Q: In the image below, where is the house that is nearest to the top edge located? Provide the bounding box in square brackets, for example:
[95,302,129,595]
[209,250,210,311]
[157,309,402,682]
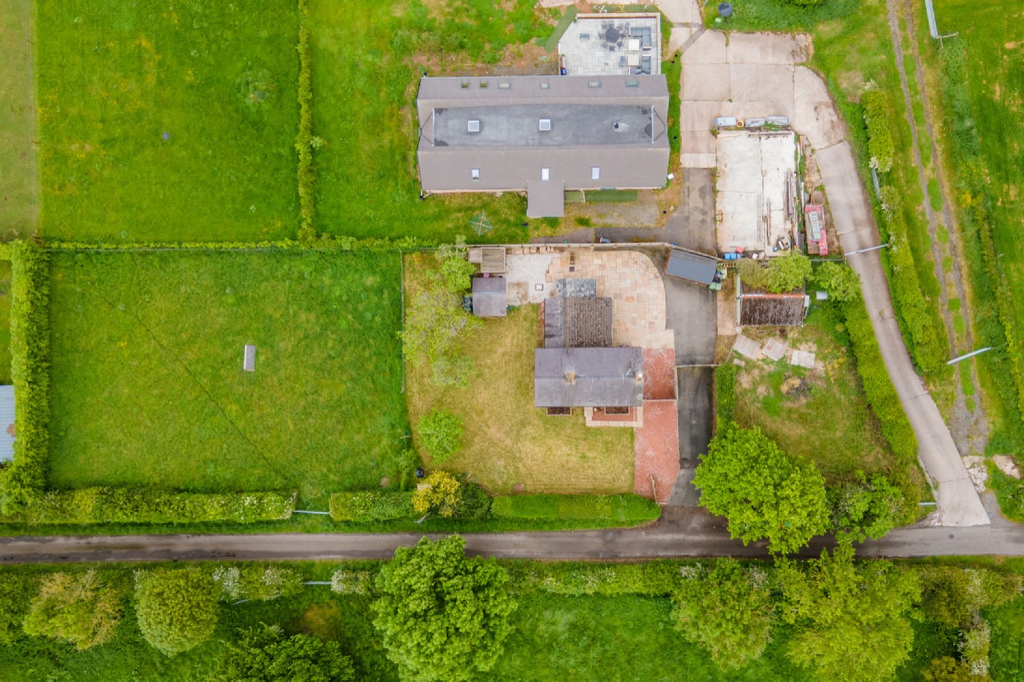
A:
[417,74,671,221]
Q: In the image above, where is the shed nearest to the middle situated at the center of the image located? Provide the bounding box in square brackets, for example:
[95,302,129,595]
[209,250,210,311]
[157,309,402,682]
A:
[472,277,506,317]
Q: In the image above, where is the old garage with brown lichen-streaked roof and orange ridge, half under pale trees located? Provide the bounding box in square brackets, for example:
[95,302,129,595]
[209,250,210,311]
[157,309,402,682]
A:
[730,277,810,327]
